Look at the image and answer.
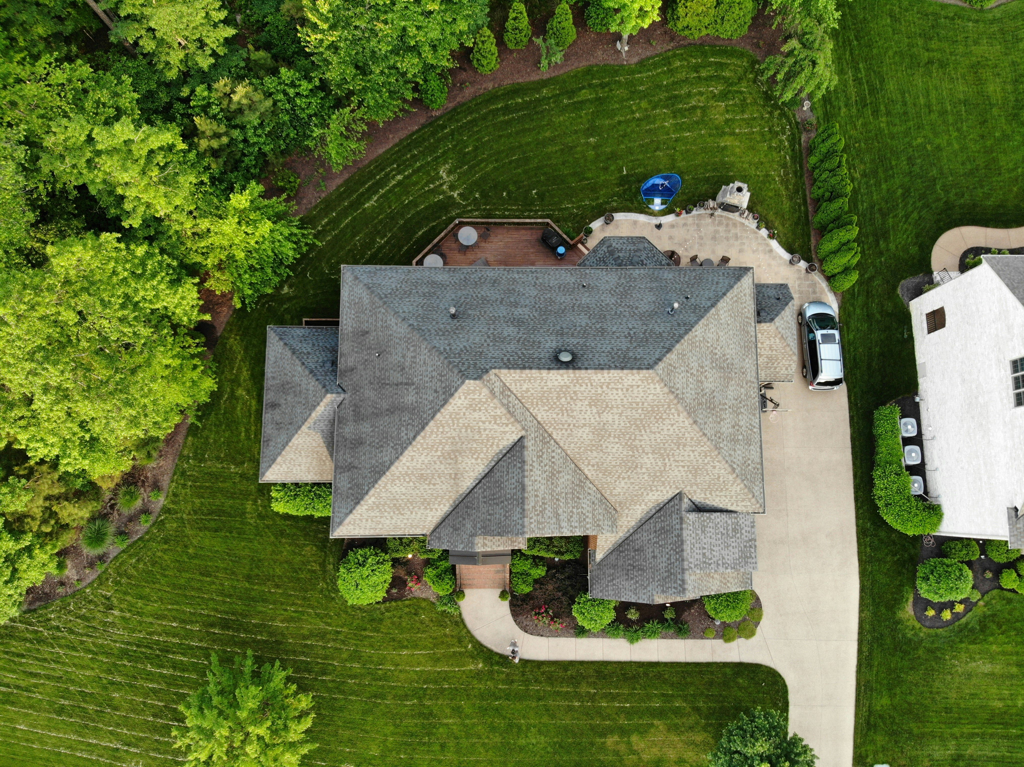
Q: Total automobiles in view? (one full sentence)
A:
The count comes to 1 automobile.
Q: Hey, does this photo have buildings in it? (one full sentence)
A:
Yes, the frame does contain a building.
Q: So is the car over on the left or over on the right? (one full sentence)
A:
The car appears in the right half of the scene.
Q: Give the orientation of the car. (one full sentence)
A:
The car runs from top to bottom in the image.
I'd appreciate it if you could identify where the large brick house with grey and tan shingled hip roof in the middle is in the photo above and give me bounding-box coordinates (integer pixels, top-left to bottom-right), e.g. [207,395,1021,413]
[257,234,799,604]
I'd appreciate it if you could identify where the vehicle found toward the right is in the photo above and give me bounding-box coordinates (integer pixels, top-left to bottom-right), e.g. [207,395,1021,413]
[800,304,847,394]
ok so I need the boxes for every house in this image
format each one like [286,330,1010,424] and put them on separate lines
[910,259,1024,550]
[257,234,799,604]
